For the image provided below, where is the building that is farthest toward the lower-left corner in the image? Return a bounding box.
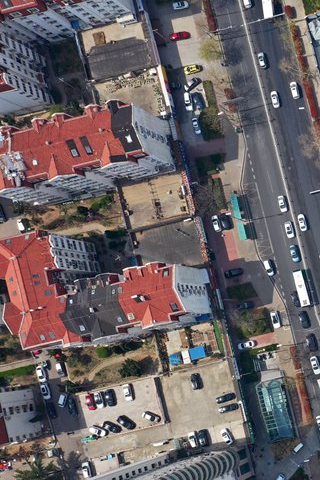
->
[0,387,55,445]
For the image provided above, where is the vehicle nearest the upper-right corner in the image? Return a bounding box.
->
[261,0,277,21]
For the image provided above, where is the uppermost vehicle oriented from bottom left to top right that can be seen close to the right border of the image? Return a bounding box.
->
[289,440,306,456]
